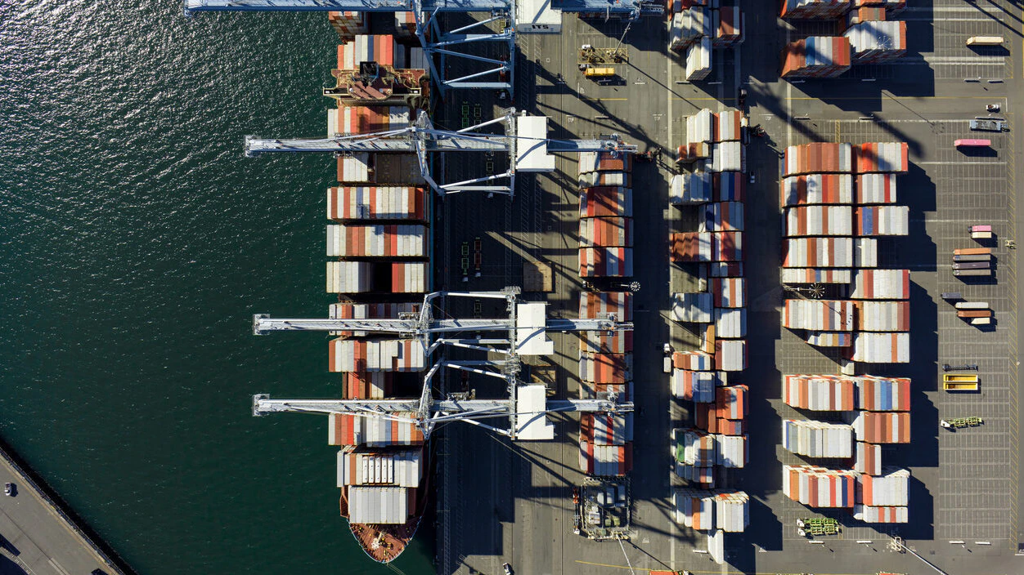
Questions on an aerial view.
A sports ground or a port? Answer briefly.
port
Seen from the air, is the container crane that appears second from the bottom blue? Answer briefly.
No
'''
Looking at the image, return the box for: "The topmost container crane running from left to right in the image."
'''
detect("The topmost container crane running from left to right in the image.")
[180,0,656,108]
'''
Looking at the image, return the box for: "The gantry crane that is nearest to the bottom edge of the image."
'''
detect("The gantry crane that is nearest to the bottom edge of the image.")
[252,350,634,440]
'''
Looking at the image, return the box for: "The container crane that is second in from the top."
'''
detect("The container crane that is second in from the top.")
[246,101,638,206]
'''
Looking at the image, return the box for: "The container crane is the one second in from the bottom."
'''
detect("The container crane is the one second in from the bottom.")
[253,283,634,356]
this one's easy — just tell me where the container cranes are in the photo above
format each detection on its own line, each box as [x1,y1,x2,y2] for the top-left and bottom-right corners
[246,101,638,206]
[180,0,656,108]
[253,283,634,356]
[252,350,634,440]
